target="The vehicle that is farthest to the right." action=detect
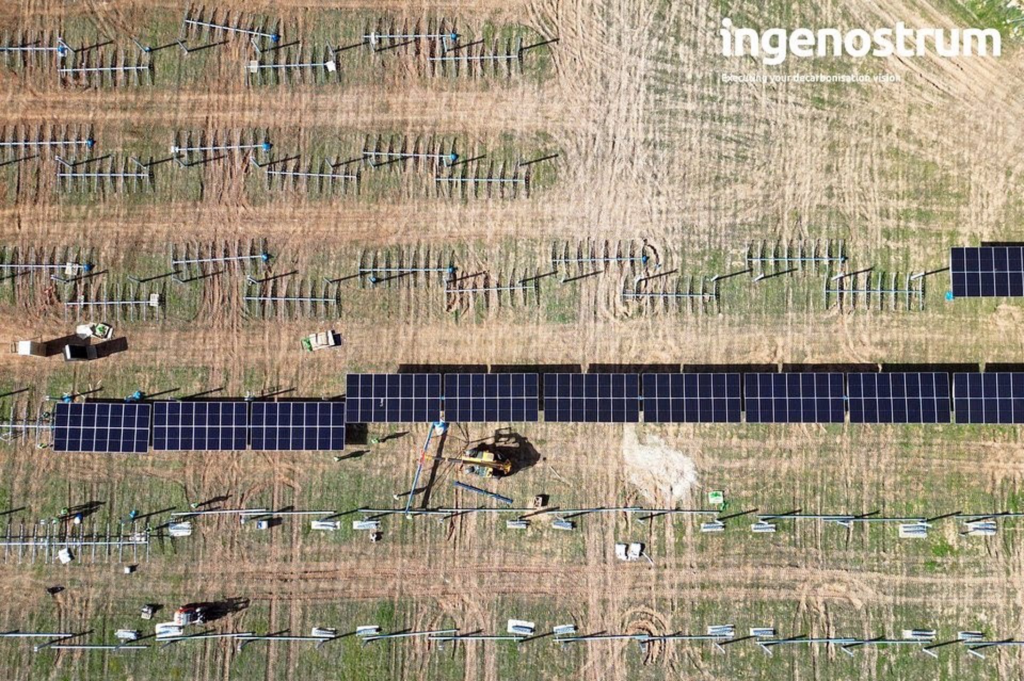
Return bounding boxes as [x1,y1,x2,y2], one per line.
[419,447,512,479]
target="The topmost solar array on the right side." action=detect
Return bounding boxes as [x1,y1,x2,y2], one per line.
[948,246,1024,297]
